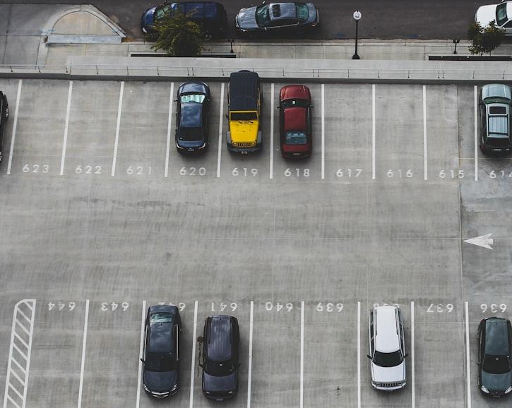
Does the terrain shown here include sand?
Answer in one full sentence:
No, sand can't be seen anywhere here.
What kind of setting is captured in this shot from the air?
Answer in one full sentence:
What you see here is a parking lot.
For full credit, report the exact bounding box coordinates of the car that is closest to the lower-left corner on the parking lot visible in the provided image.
[139,305,182,399]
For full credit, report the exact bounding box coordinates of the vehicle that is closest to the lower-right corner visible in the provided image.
[476,314,512,399]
